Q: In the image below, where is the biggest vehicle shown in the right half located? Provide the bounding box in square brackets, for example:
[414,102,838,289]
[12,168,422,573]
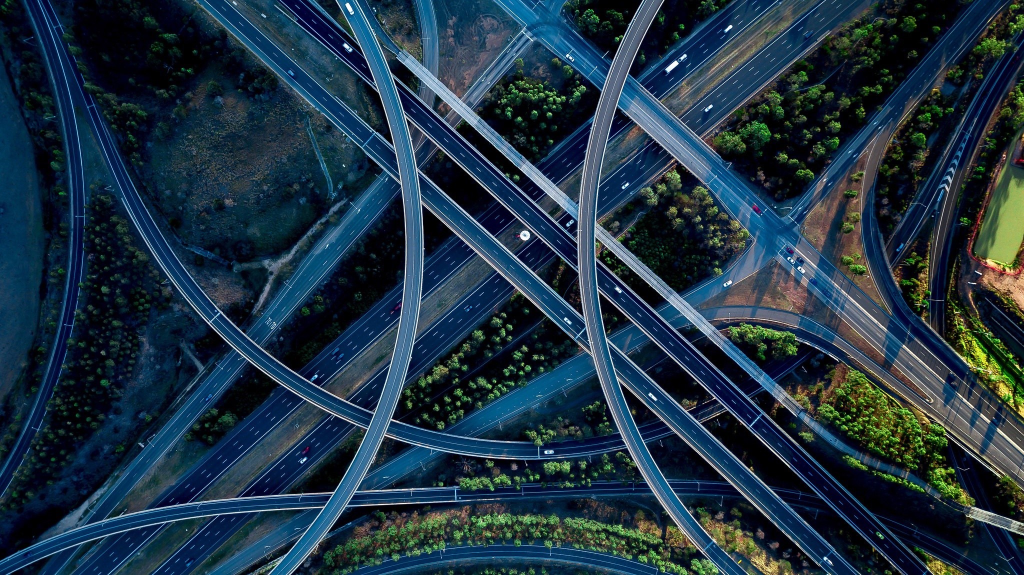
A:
[667,50,690,70]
